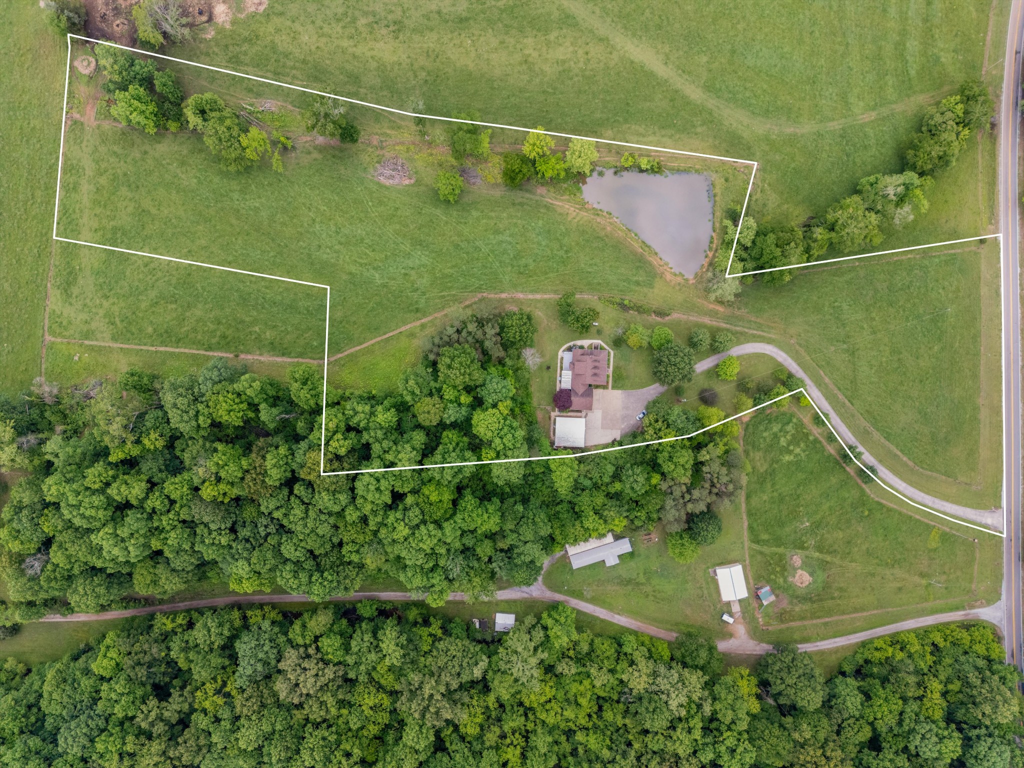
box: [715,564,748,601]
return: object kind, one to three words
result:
barn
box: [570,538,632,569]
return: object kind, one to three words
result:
building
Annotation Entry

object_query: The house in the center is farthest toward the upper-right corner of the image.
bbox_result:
[561,342,610,410]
